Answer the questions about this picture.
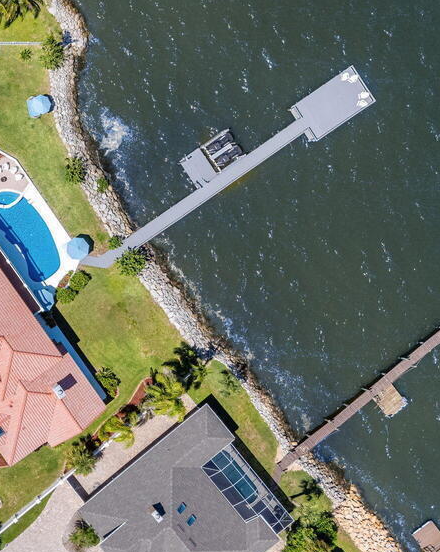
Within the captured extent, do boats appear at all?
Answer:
Yes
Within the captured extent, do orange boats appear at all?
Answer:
No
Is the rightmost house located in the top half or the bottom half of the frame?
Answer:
bottom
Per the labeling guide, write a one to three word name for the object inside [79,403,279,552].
house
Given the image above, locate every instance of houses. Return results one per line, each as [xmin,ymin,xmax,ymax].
[0,249,109,467]
[79,403,279,552]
